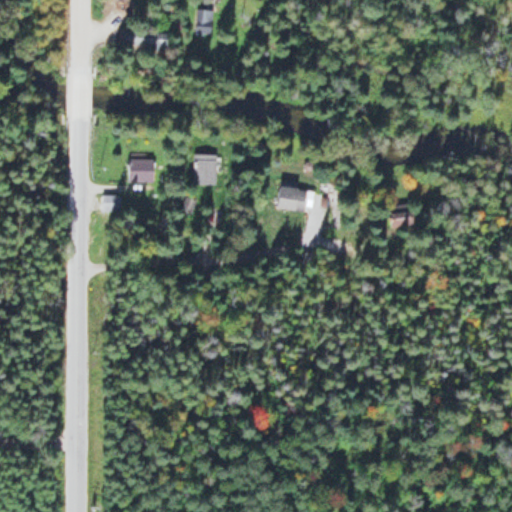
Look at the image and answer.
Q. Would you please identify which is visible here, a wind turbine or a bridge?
bridge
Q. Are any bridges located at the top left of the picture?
Yes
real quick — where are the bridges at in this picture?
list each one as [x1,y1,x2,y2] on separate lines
[62,66,96,124]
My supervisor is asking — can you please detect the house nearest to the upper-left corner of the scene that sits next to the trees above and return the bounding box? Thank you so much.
[133,35,166,52]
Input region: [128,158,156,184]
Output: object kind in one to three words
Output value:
house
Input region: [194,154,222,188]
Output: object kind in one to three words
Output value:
house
